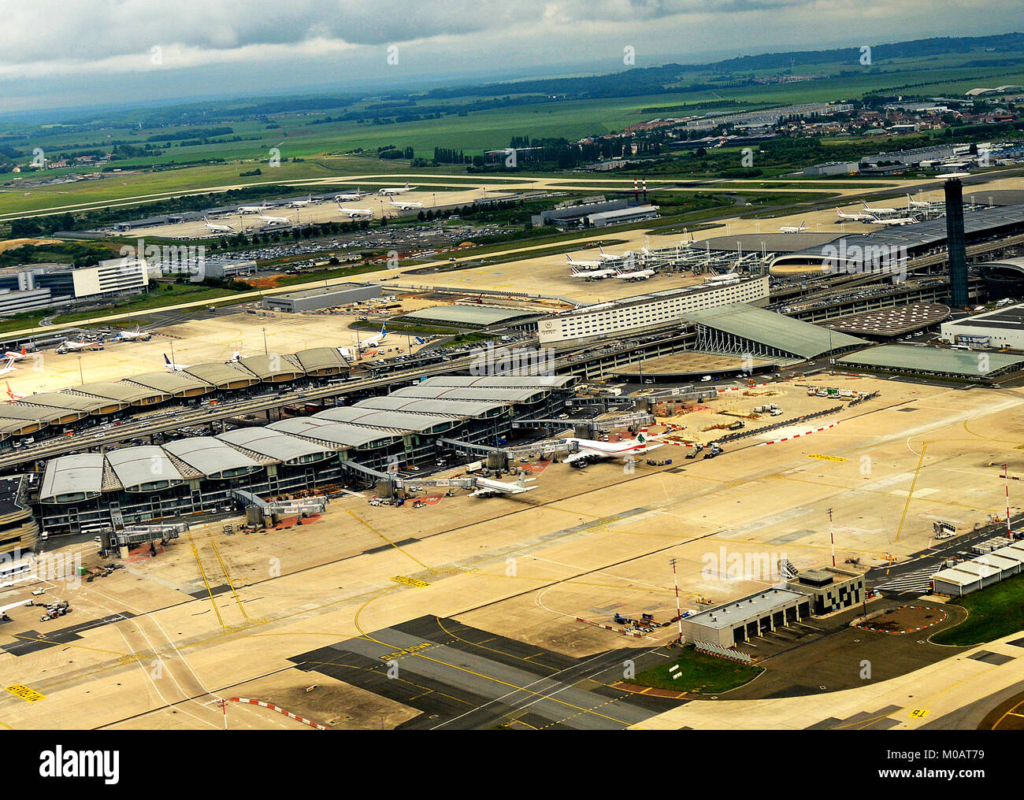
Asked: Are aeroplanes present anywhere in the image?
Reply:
Yes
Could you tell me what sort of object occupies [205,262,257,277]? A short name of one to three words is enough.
shed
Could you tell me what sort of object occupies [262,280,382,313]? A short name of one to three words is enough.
building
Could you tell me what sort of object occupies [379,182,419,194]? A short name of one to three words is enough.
airplane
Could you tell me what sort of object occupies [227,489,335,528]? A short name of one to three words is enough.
jet bridge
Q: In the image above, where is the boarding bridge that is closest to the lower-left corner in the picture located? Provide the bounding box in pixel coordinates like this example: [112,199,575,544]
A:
[97,508,195,555]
